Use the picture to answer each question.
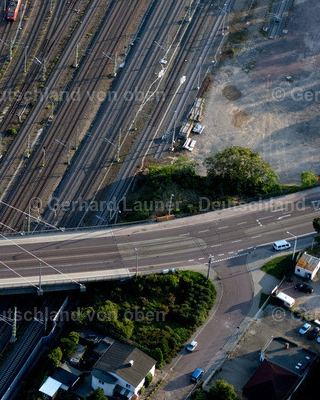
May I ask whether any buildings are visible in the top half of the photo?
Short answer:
No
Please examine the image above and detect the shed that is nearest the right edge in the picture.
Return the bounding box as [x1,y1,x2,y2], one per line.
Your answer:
[294,253,320,281]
